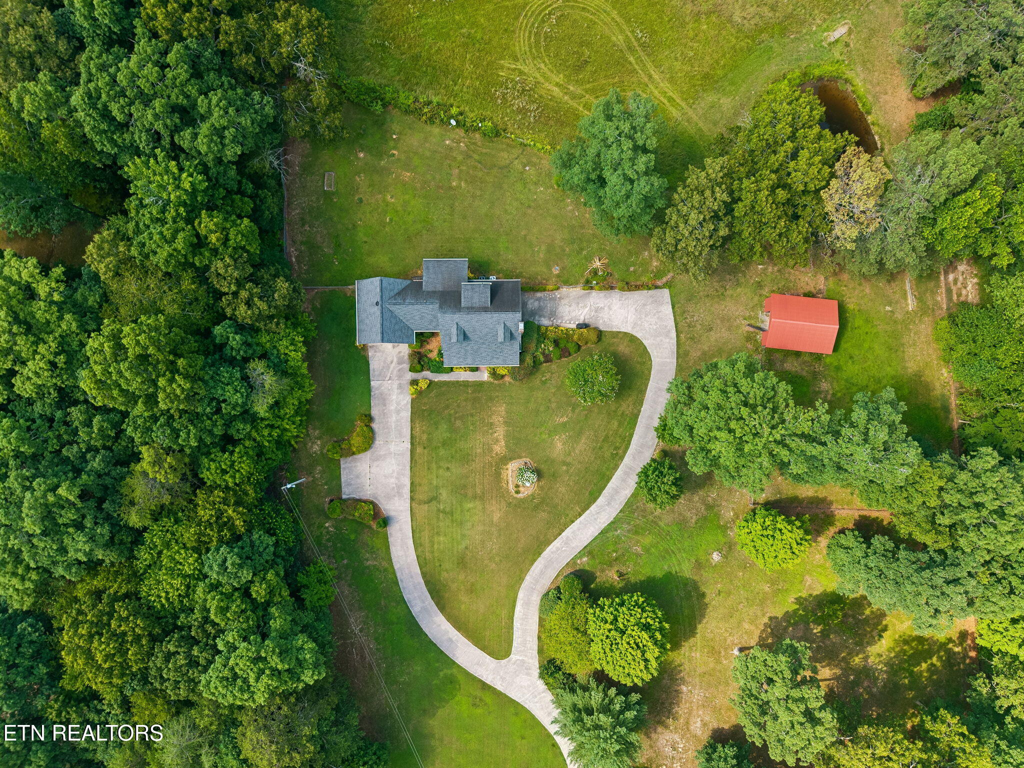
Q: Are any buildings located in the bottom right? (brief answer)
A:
No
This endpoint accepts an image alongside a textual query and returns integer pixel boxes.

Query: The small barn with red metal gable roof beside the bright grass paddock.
[757,294,839,354]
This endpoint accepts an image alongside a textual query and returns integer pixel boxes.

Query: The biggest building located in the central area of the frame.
[356,258,524,369]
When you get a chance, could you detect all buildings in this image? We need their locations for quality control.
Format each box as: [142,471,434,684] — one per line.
[757,294,839,354]
[356,258,524,369]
